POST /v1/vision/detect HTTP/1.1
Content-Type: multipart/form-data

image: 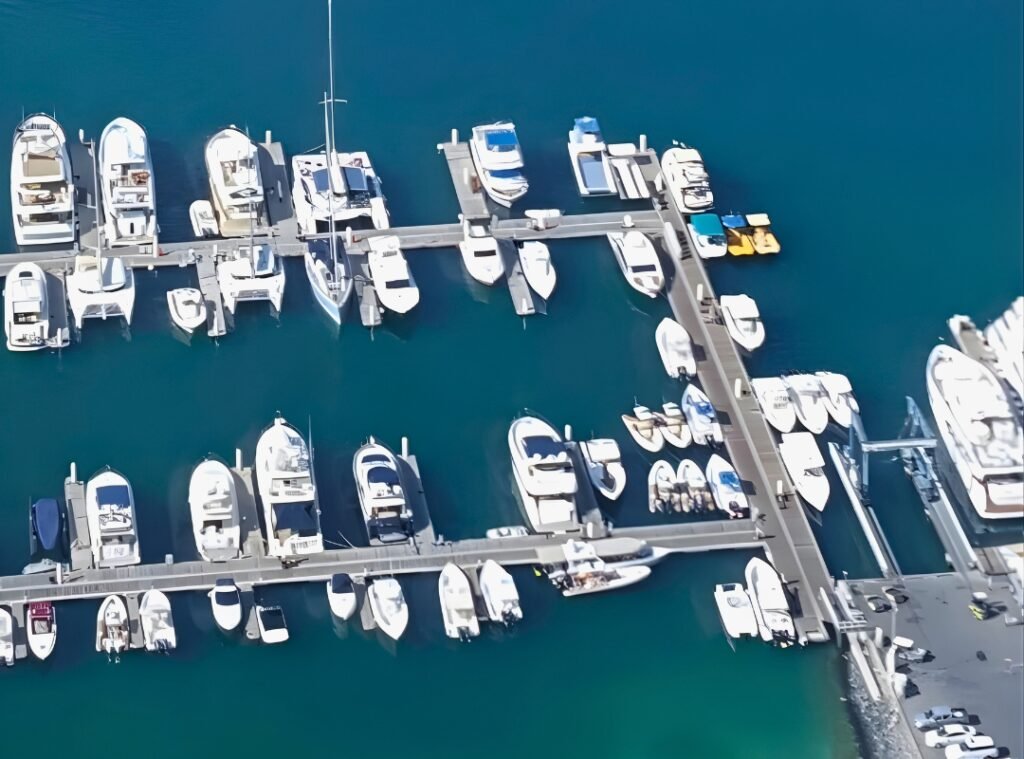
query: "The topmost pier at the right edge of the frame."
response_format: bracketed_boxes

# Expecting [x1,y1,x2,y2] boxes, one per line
[952,326,1010,402]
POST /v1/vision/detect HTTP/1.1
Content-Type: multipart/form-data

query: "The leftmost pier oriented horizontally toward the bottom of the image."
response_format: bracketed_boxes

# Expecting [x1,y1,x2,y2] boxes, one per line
[0,518,764,603]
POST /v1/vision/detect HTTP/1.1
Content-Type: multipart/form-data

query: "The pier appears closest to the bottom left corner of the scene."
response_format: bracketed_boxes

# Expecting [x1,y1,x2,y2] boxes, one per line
[13,604,26,661]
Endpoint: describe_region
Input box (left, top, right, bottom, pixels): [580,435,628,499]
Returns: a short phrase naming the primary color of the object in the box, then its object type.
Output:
white boat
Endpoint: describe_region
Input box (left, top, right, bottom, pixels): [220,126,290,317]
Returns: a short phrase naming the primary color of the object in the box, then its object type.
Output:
white boat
